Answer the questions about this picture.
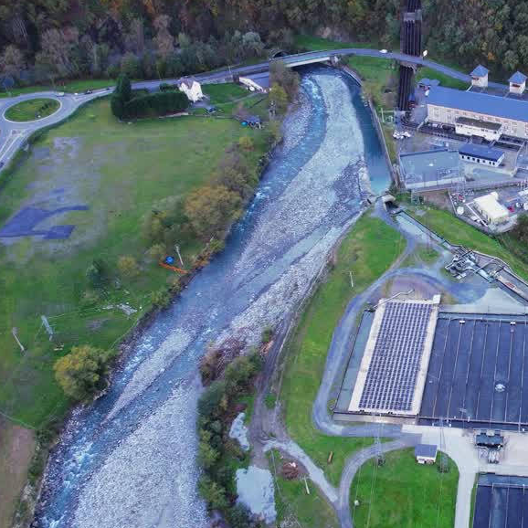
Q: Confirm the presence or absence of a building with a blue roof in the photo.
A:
Yes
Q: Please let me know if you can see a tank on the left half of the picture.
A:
No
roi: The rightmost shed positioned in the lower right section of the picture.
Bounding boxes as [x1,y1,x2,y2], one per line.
[414,443,440,465]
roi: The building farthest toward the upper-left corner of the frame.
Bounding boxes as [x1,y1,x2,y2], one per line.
[177,73,205,99]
